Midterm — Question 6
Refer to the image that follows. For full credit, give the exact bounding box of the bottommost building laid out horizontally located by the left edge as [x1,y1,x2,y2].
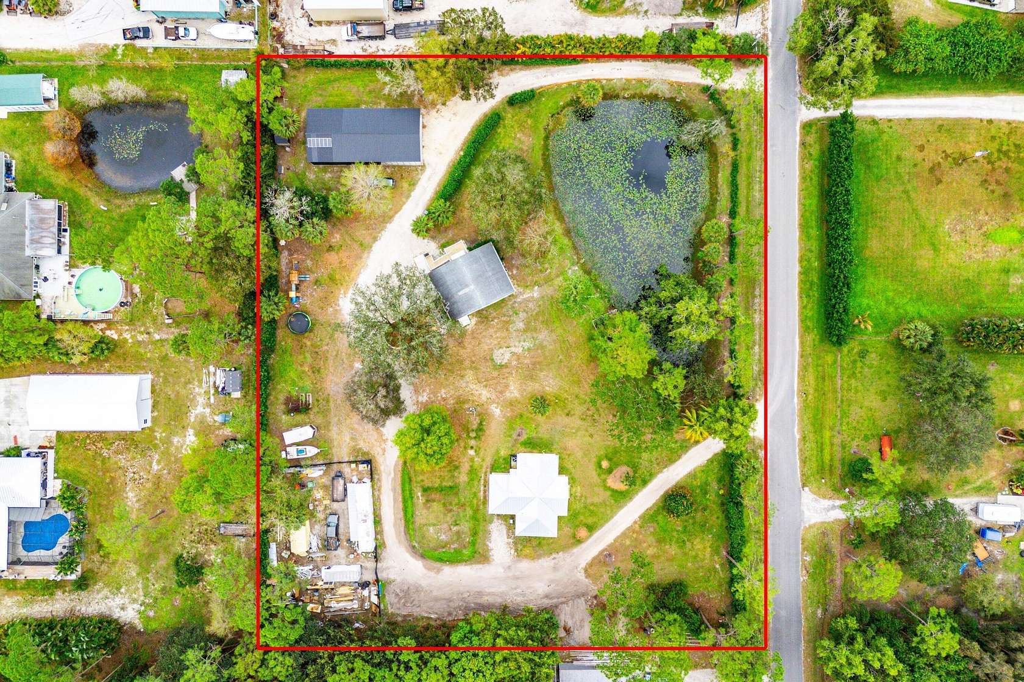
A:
[23,374,151,431]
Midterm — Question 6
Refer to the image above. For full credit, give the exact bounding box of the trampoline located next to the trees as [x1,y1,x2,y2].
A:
[288,312,310,334]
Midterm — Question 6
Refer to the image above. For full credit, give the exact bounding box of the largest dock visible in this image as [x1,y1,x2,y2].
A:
[170,161,201,193]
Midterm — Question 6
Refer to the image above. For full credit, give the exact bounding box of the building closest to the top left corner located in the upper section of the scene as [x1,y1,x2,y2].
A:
[0,75,58,112]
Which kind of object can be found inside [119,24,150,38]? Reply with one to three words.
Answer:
vehicle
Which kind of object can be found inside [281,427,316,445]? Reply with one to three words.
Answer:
boat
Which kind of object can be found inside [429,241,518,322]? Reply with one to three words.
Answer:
house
